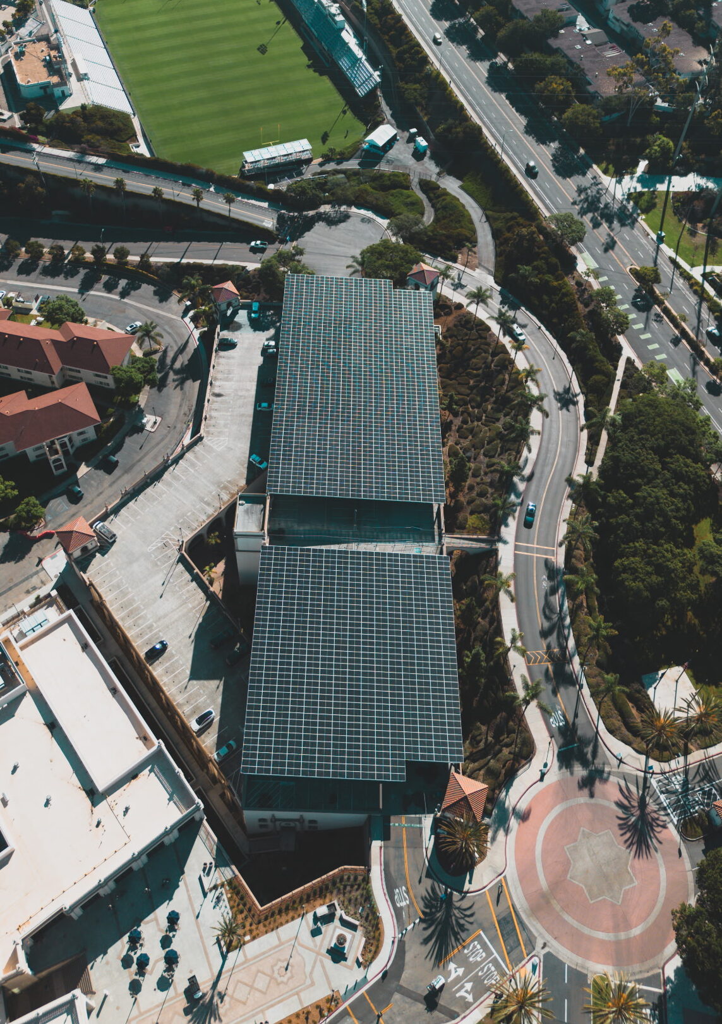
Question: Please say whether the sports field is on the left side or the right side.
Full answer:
You can find the sports field on the left side of the picture.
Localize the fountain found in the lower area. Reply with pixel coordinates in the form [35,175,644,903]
[331,928,352,953]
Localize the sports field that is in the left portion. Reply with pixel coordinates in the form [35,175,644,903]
[97,0,365,175]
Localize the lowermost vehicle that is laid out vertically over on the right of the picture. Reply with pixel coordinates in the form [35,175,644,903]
[525,501,537,523]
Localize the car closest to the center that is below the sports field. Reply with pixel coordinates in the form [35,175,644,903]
[249,452,268,468]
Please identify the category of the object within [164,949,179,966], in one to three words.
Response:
umbrella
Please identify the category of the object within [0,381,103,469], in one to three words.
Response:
building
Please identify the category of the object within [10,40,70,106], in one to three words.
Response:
building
